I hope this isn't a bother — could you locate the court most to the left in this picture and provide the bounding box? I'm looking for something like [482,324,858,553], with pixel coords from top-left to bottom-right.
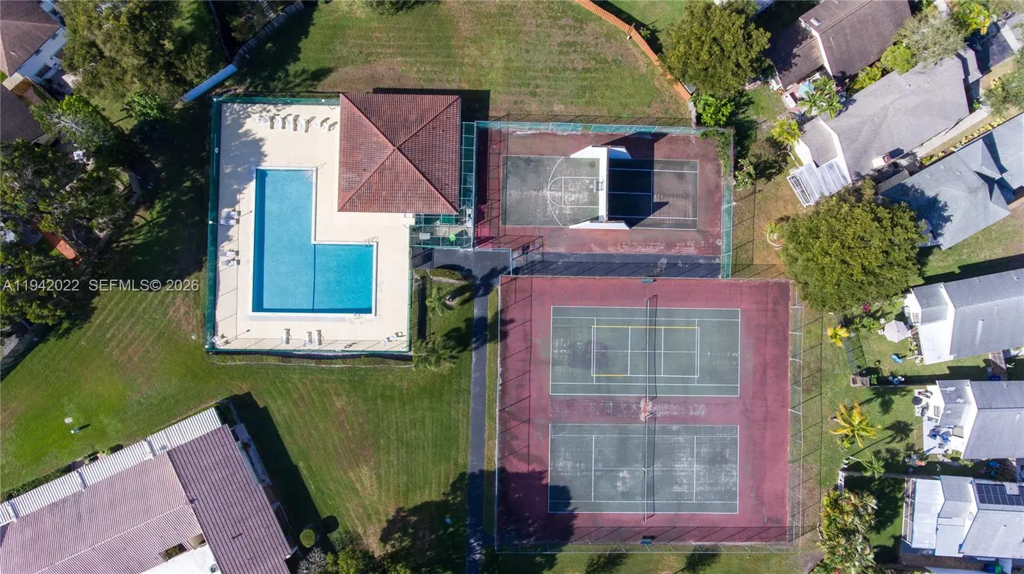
[476,129,601,251]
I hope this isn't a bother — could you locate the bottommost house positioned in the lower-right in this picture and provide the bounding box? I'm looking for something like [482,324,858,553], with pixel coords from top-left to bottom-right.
[900,473,1024,558]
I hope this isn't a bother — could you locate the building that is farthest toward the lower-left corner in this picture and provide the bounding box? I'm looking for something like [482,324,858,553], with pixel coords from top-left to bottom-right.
[0,404,301,574]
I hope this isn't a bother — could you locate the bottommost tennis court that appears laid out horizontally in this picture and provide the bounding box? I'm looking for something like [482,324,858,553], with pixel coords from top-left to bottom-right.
[498,410,790,543]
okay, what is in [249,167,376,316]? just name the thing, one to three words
swimming pool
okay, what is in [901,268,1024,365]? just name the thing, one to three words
house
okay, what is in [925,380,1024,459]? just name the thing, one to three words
house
